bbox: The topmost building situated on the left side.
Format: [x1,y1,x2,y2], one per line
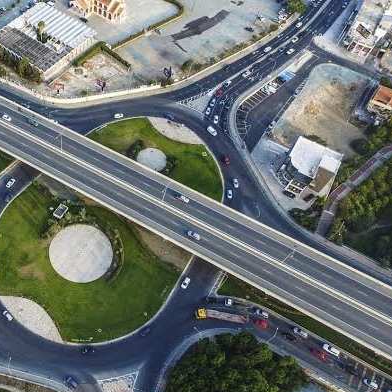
[74,0,133,30]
